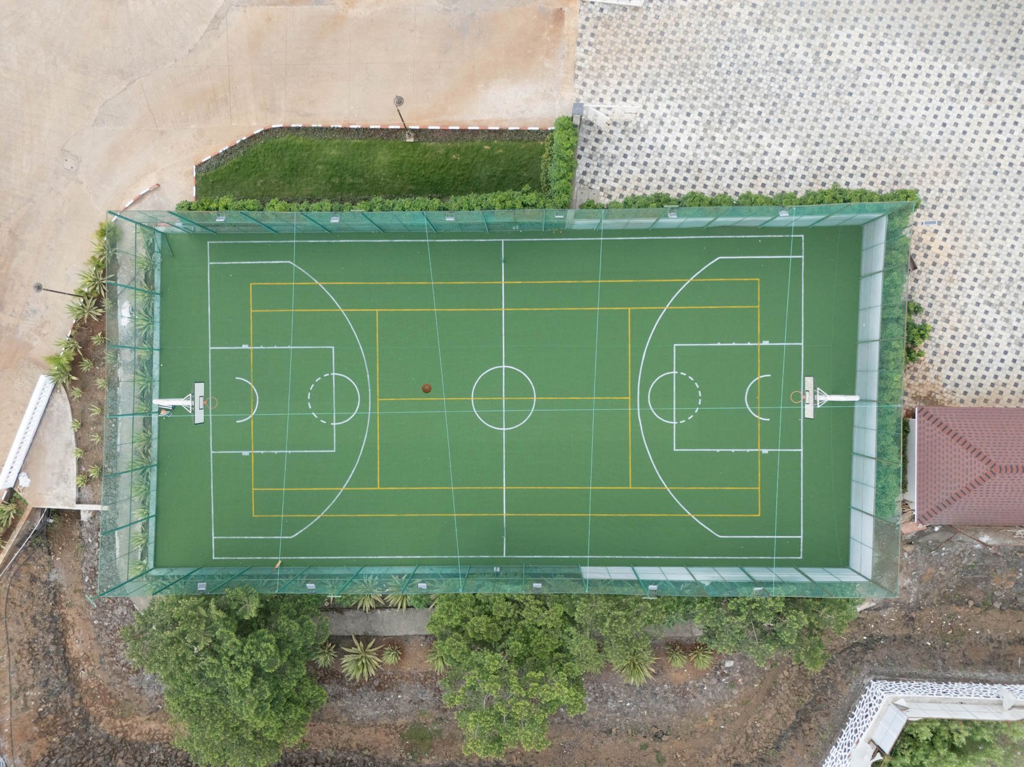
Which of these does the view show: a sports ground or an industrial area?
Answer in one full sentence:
The area seen from above is a sports ground.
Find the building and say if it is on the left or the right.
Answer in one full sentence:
You can find the building on the right side of the picture.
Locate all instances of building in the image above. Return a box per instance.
[889,405,1024,528]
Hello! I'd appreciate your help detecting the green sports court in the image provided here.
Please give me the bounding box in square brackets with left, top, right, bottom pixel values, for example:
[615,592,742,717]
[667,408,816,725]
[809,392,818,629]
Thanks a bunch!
[144,216,874,579]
